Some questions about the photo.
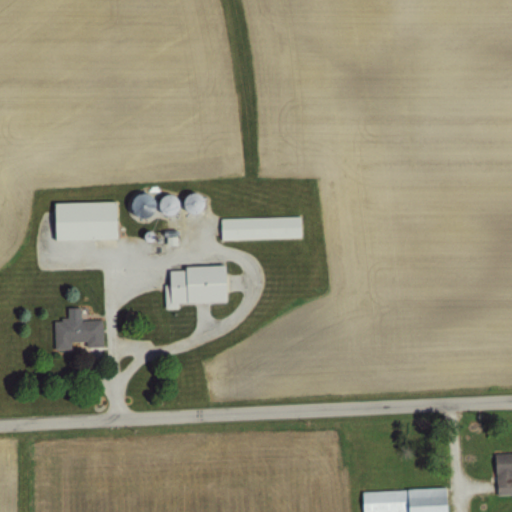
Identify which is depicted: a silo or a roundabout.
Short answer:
silo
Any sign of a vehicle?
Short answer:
No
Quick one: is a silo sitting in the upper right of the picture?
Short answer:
No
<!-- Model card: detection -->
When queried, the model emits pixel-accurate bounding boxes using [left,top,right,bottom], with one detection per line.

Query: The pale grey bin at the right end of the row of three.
[184,193,207,216]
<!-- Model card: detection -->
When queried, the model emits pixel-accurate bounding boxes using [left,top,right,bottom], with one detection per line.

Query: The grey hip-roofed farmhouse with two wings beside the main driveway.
[55,308,104,351]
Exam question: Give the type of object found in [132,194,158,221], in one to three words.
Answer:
silo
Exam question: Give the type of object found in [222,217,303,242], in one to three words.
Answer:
shed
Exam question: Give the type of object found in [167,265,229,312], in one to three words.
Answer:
building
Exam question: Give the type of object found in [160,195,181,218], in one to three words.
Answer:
silo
